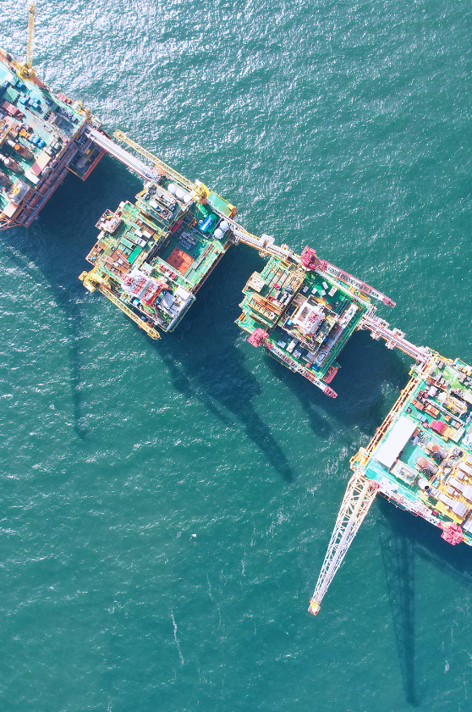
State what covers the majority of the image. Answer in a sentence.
The scene is dominated by water.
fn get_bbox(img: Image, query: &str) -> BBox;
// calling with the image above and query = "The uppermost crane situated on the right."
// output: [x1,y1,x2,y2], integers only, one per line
[292,247,397,309]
